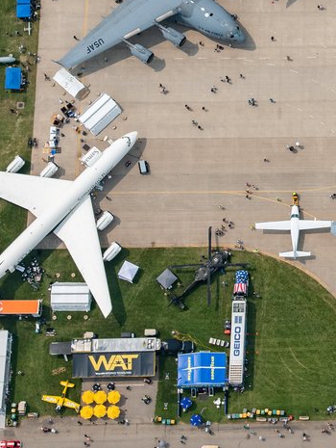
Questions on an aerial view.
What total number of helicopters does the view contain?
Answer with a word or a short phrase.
1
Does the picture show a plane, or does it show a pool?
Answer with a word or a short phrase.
plane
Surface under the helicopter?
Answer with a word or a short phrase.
grass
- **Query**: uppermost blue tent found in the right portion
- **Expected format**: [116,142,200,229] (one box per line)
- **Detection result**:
[176,351,228,393]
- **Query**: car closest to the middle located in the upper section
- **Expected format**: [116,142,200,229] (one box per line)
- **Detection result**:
[136,155,149,181]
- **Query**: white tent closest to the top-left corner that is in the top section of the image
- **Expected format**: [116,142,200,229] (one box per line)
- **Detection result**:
[52,72,89,100]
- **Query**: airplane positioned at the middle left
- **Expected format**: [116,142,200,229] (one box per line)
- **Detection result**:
[0,133,138,317]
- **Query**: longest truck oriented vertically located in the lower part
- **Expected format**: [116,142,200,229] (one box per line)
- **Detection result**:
[227,300,248,389]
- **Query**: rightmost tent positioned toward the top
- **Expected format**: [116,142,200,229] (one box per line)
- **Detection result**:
[74,89,125,140]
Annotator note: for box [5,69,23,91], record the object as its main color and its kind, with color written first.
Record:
blue tent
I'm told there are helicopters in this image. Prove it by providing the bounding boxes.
[168,228,250,308]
